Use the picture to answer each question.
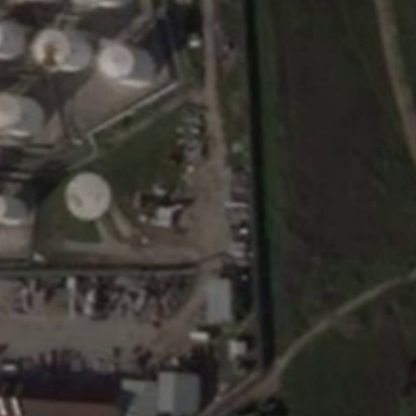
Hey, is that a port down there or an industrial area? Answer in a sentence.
What you see here is an industrial area.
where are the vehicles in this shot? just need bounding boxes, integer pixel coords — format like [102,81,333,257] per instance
[4,364,18,371]
[190,332,212,341]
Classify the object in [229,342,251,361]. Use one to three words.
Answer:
shed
